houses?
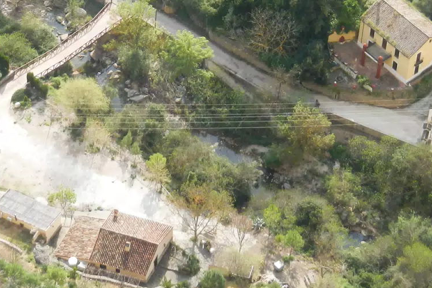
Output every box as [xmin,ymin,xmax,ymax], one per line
[54,208,172,288]
[349,0,432,83]
[0,185,64,254]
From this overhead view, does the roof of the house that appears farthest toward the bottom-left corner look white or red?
white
